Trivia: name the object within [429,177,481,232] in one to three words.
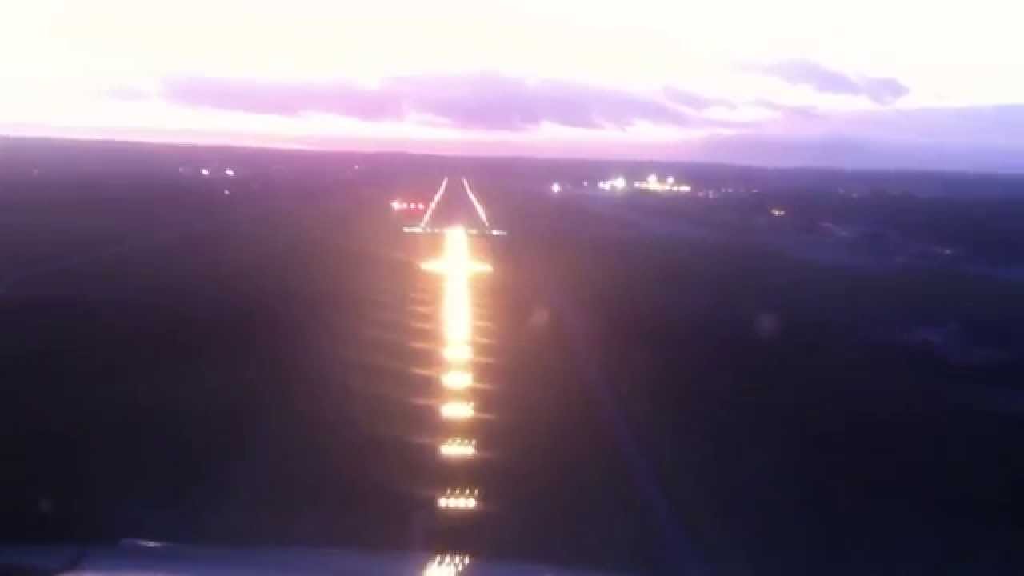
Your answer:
runway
